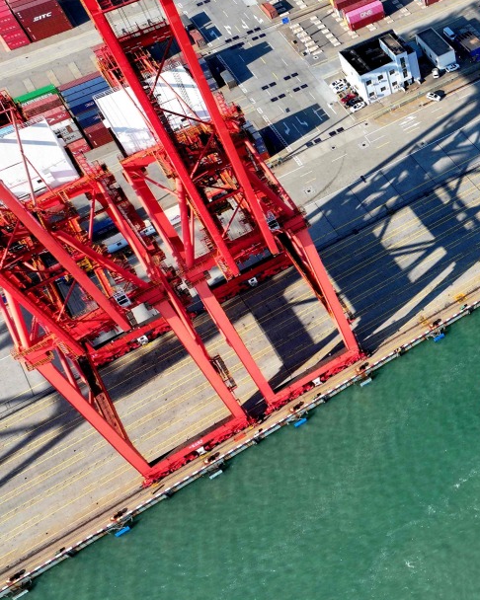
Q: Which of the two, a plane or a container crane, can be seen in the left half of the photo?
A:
container crane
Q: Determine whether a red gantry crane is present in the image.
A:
Yes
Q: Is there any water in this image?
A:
Yes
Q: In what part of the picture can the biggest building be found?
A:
top right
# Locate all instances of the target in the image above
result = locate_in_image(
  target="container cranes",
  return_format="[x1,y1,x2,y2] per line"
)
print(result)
[66,0,375,416]
[0,110,263,490]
